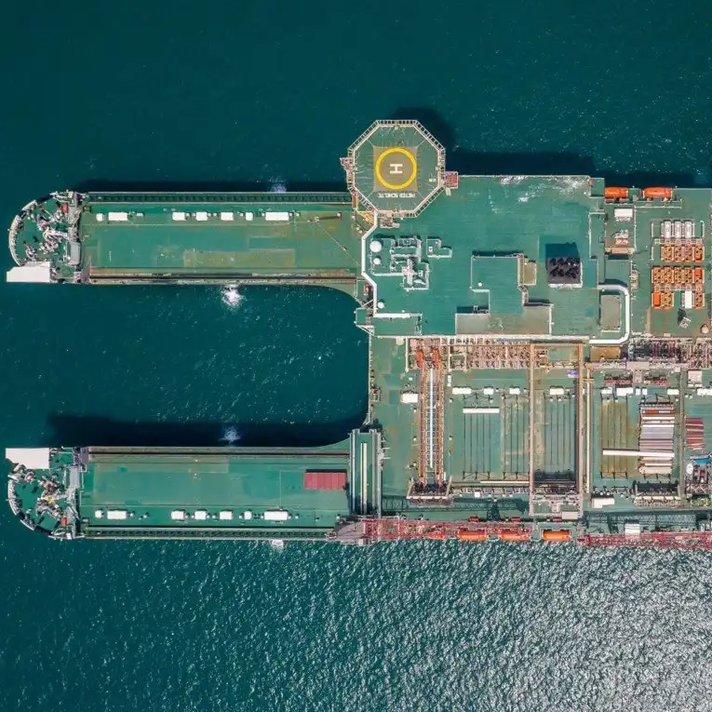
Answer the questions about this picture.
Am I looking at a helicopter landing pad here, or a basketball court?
helicopter landing pad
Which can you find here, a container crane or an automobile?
container crane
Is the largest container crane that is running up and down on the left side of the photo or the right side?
right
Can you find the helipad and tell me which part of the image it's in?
top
